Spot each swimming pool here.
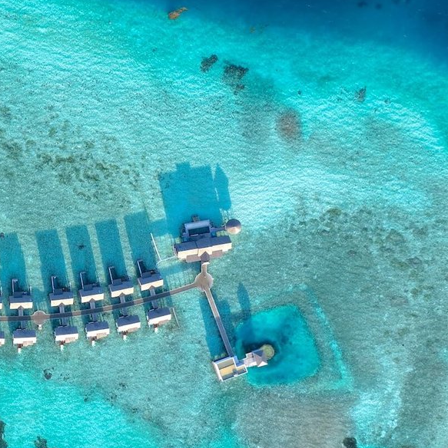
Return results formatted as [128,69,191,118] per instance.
[136,259,147,273]
[108,267,119,281]
[52,275,62,289]
[13,279,22,291]
[80,272,90,286]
